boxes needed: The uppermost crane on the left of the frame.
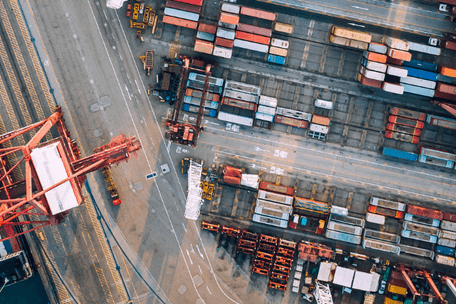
[152,56,211,146]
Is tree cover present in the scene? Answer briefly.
No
